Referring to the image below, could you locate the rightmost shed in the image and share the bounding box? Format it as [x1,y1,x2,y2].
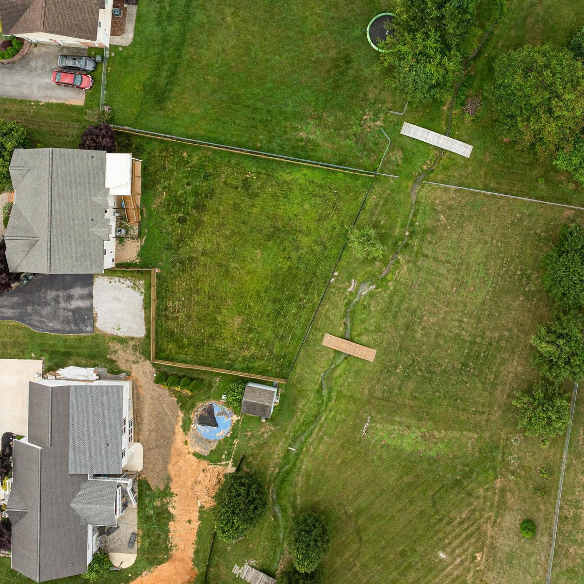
[242,383,277,415]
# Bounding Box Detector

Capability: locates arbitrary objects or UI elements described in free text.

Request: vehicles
[57,54,98,73]
[51,70,94,92]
